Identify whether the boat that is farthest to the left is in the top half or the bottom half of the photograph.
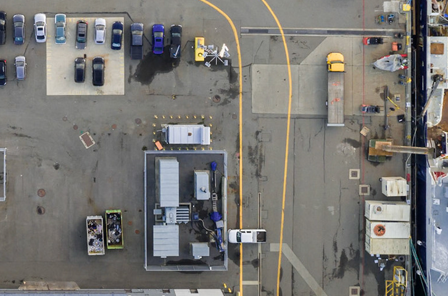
top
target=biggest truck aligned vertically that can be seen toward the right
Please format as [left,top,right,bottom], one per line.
[325,51,347,126]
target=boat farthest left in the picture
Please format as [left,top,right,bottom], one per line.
[373,52,409,72]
